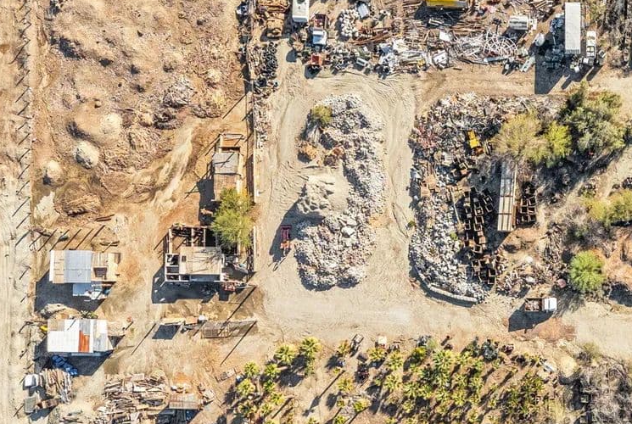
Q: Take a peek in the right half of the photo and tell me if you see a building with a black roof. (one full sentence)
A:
No, there's no building with a black roof to be seen in the right half of the photo.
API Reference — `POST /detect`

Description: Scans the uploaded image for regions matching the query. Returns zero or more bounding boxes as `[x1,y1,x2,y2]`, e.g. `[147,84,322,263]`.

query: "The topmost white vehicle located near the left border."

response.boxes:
[24,365,45,388]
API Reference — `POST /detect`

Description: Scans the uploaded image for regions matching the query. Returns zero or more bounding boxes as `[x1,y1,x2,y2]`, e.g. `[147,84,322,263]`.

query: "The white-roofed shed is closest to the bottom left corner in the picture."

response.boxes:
[48,319,122,356]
